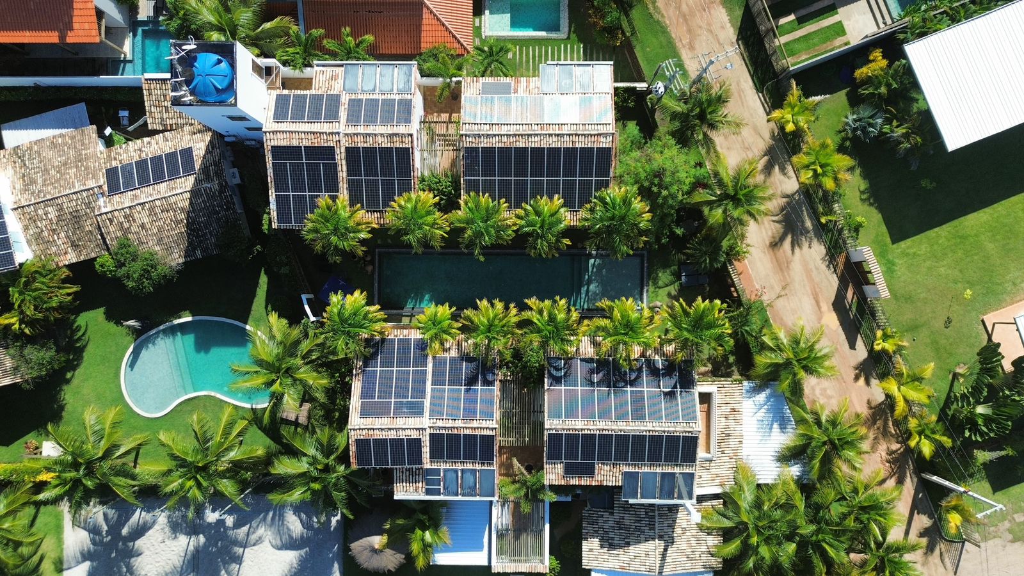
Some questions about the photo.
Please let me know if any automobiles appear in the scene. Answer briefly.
No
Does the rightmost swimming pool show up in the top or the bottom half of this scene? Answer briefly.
top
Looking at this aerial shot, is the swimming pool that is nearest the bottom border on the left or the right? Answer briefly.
left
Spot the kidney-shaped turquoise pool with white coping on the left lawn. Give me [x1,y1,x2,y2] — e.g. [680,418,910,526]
[122,318,283,415]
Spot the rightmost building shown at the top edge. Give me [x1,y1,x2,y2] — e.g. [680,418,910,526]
[886,0,1024,158]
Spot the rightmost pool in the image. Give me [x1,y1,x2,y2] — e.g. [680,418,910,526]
[892,0,931,20]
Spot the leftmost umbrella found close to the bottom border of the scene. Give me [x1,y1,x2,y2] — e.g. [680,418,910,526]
[350,523,406,576]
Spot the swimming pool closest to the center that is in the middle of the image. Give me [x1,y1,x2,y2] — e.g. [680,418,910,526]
[375,250,647,313]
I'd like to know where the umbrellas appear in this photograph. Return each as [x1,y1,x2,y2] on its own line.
[318,276,357,304]
[350,523,406,576]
